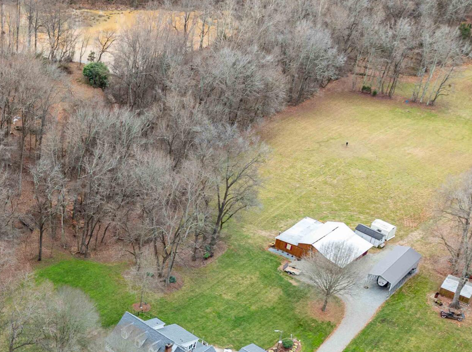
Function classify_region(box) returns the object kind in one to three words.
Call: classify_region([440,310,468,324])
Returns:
vehicle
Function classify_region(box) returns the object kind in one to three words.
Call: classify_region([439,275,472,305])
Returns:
shed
